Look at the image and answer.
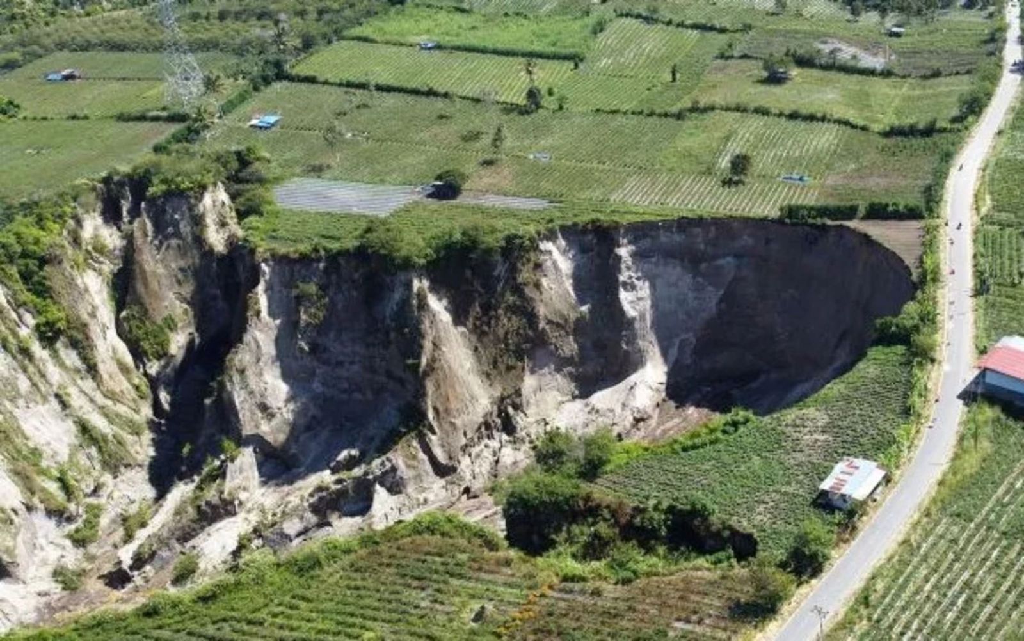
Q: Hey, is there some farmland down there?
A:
Yes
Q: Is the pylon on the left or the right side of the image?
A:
left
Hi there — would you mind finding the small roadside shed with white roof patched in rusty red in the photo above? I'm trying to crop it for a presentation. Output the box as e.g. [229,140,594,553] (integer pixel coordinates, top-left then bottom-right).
[819,459,884,517]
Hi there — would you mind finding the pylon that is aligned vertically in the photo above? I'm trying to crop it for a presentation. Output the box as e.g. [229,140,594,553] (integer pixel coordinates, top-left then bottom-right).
[161,0,210,108]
